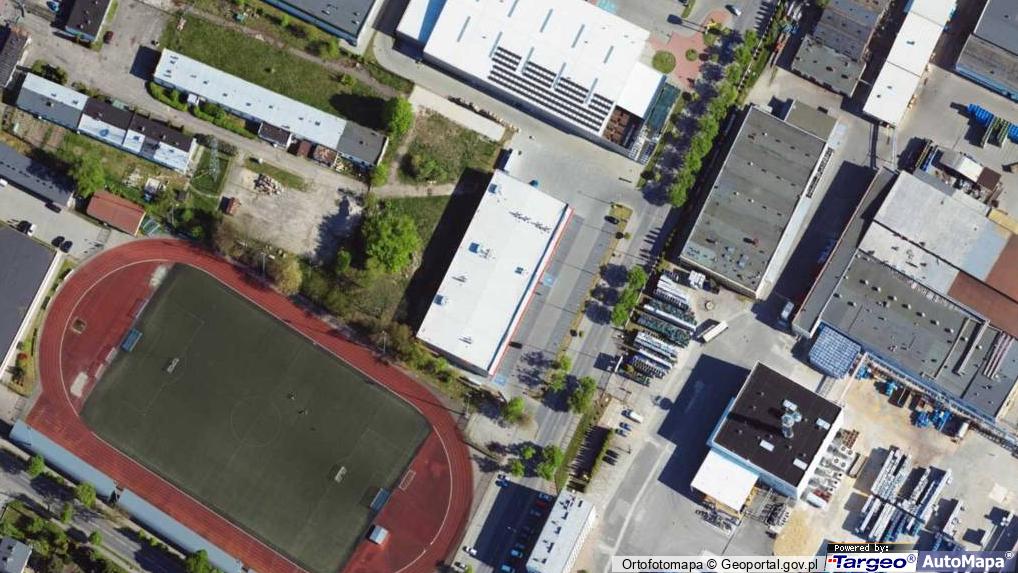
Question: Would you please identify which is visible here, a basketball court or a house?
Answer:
house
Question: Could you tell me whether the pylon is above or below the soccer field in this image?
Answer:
above it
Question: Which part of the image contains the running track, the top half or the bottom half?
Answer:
bottom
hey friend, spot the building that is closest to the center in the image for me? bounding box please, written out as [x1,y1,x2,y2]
[417,169,577,377]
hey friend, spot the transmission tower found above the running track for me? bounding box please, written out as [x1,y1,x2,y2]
[202,141,223,188]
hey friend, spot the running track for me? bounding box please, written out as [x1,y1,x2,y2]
[26,237,472,573]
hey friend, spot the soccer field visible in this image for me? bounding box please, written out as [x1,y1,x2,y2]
[83,263,431,573]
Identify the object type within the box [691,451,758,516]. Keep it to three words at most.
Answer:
building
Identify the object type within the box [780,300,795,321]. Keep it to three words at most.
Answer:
vehicle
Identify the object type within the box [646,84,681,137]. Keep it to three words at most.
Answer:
house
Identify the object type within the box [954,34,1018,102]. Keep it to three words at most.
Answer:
building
